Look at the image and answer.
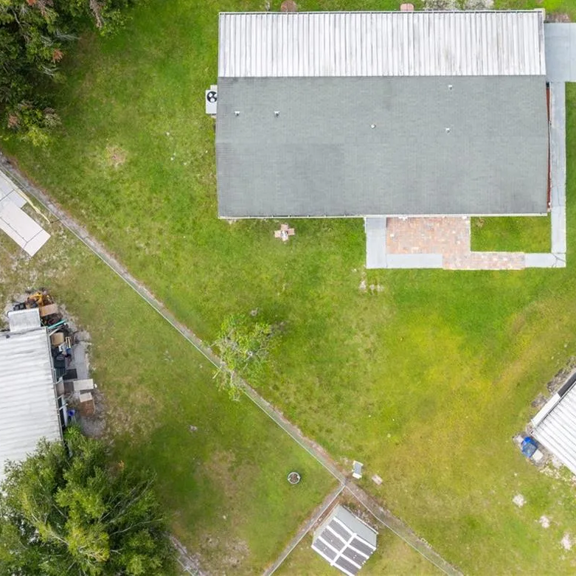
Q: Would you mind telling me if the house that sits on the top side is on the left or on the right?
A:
right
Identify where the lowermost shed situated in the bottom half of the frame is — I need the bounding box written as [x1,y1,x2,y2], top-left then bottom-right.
[311,502,381,576]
